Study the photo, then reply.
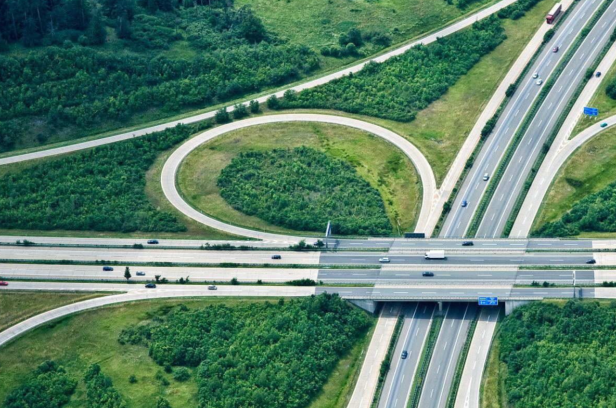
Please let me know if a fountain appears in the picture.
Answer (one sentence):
No, the picture doesn't show any fountain.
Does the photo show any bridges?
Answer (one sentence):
Yes, you can see a bridge in this photo.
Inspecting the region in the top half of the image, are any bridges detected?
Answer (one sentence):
No, there's no bridge to be seen in the top half of the image.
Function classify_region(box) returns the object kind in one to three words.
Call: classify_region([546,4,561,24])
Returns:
vehicle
